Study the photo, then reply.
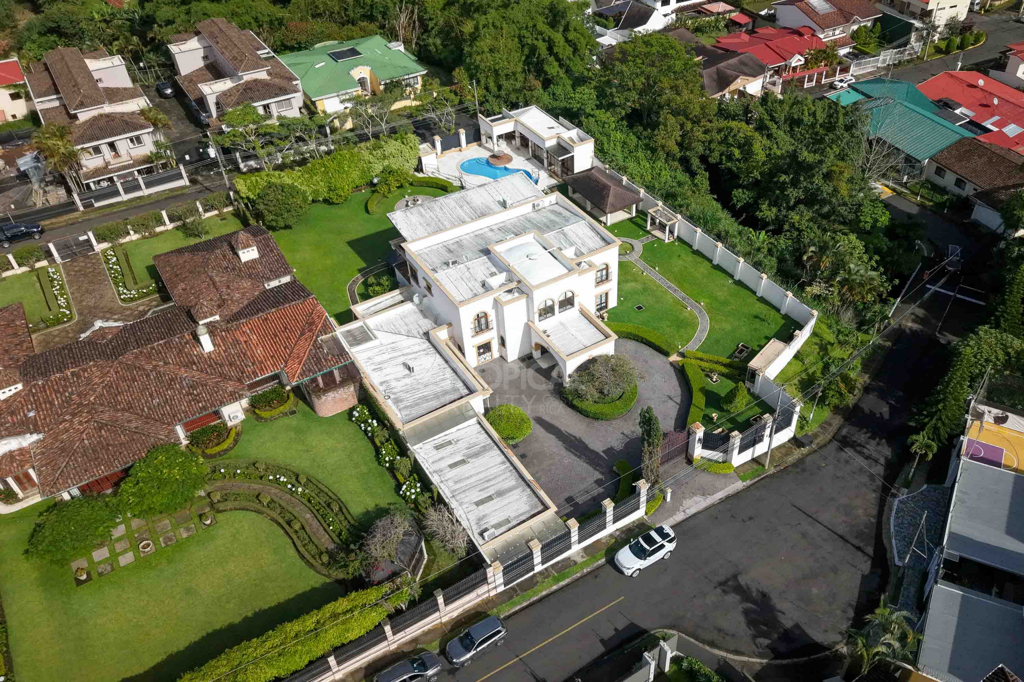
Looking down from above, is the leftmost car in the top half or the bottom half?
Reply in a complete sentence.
Seen from above, the leftmost car lies in the top half of the view.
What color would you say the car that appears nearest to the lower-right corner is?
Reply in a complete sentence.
The color of the car that appears nearest to the lower-right corner is white.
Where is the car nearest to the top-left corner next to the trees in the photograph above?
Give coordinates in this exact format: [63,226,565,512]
[151,78,167,97]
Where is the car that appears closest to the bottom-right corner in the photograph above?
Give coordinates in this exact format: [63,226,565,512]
[611,526,679,577]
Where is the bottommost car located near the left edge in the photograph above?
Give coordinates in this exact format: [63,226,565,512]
[0,224,42,246]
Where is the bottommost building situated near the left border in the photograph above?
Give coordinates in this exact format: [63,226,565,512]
[0,221,356,523]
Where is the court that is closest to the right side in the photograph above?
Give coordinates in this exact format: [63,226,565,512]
[962,366,1024,477]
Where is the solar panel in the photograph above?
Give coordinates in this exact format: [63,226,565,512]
[332,45,364,63]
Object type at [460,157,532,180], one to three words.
swimming pool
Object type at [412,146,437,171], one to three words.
shed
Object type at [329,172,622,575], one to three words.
house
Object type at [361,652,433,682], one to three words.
car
